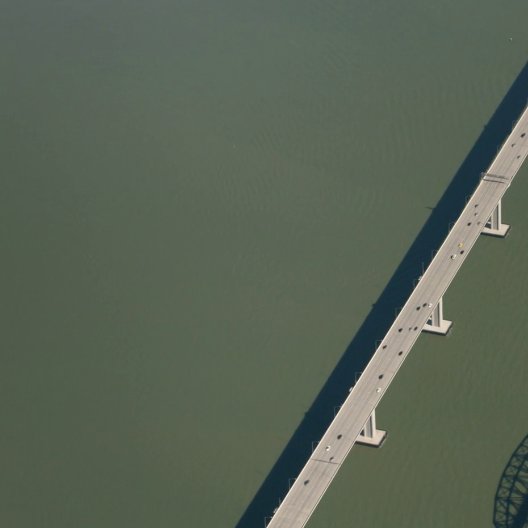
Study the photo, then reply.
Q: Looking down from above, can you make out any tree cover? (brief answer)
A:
No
